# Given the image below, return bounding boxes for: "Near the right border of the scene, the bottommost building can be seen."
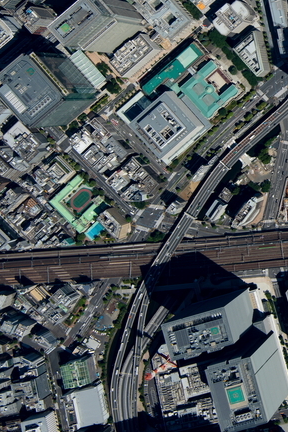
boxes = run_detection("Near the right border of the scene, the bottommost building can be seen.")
[206,332,288,432]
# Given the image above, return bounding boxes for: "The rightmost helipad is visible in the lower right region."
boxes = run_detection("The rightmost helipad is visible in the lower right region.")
[227,389,243,405]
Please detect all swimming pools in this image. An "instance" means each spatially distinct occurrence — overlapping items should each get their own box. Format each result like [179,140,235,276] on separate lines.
[84,222,104,240]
